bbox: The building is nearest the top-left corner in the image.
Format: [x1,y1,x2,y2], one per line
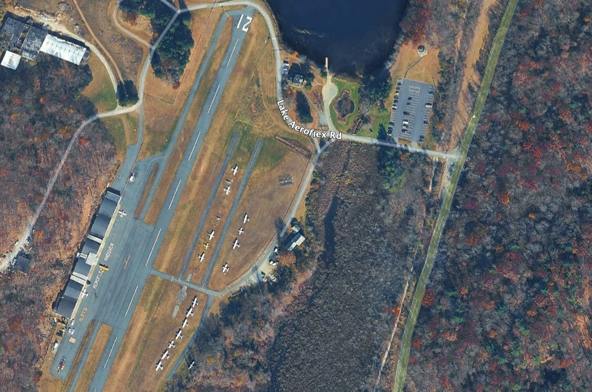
[0,17,25,50]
